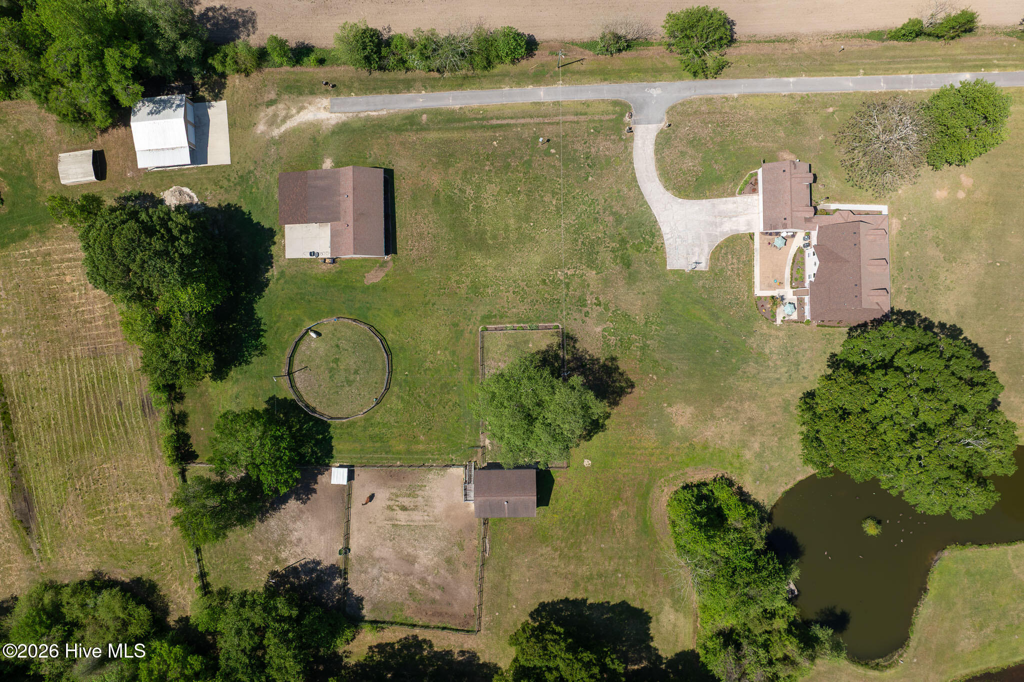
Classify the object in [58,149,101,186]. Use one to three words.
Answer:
shed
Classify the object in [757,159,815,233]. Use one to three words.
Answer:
building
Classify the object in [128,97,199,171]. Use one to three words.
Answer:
barn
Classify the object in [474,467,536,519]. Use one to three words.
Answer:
building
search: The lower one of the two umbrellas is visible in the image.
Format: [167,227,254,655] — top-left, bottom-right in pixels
[782,303,797,316]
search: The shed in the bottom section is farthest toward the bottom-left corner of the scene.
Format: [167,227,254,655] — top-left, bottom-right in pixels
[332,465,351,484]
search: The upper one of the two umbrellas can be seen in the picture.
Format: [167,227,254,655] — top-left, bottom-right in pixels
[774,235,788,249]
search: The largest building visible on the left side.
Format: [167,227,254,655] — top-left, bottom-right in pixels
[279,166,390,260]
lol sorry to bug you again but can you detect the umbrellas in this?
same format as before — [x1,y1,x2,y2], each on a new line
[782,303,797,316]
[774,235,788,249]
